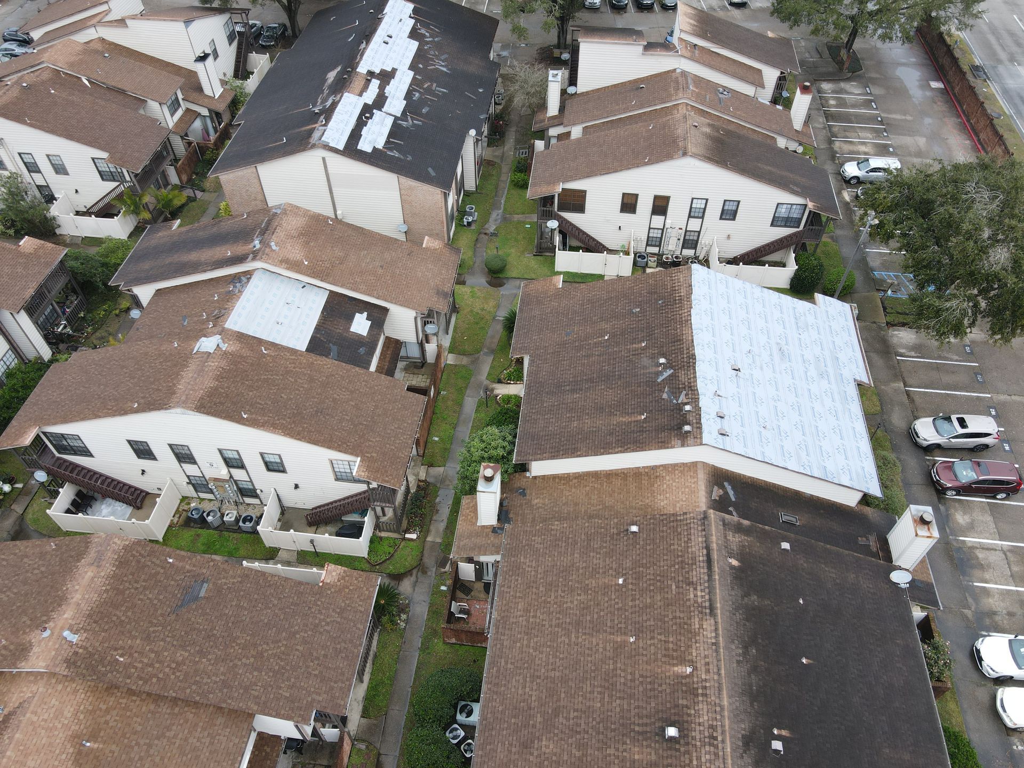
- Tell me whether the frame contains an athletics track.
No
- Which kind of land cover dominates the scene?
buildings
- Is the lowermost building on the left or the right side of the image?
left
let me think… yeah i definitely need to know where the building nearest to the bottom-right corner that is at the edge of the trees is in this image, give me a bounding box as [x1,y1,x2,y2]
[442,264,956,768]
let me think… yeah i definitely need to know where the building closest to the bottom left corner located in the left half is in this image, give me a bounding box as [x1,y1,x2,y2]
[0,535,399,768]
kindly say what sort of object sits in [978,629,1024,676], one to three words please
car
